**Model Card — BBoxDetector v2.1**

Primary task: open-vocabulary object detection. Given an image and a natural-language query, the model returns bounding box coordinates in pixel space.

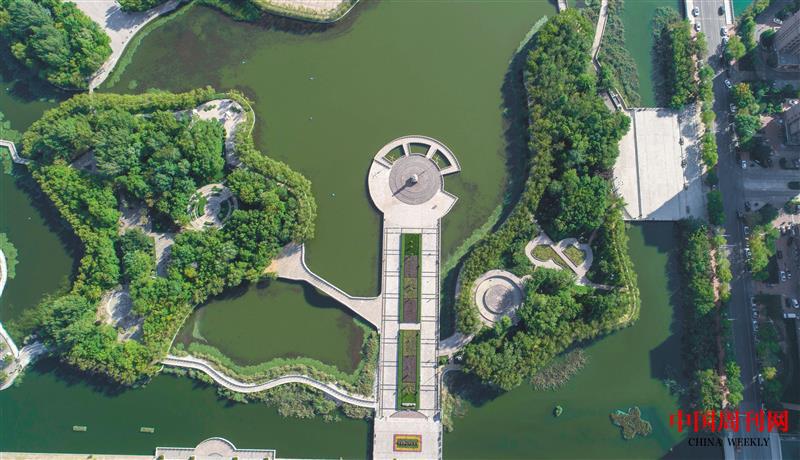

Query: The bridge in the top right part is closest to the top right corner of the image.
[685,0,734,23]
